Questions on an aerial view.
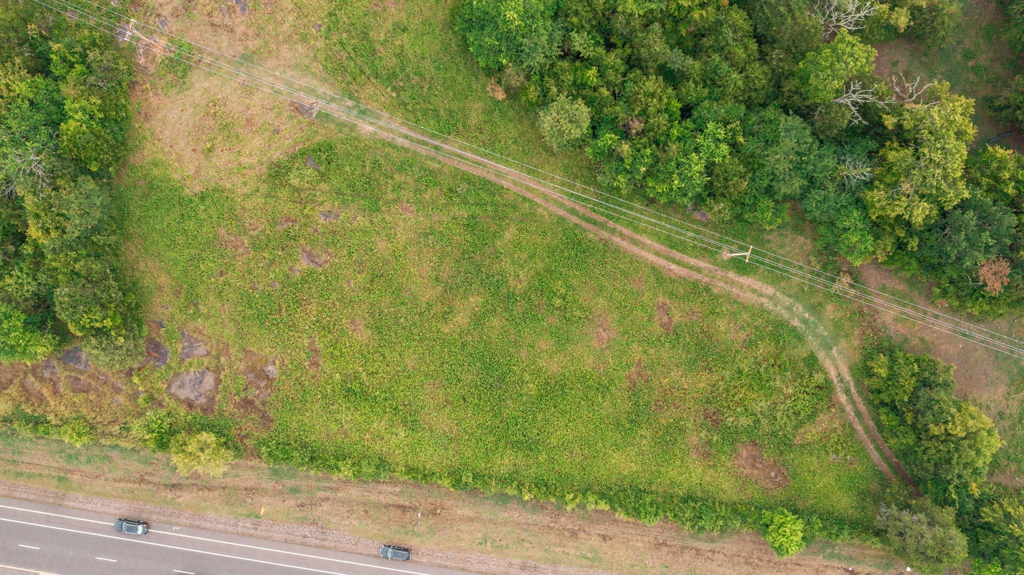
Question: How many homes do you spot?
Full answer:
No homes are visible.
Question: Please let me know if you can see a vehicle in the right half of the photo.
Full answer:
No, no vehicle can be made out in the right half of the photo.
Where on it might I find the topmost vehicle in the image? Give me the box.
[115,517,149,535]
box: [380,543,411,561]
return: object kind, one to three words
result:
car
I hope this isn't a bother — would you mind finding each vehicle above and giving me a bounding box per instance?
[115,517,149,535]
[380,543,411,561]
